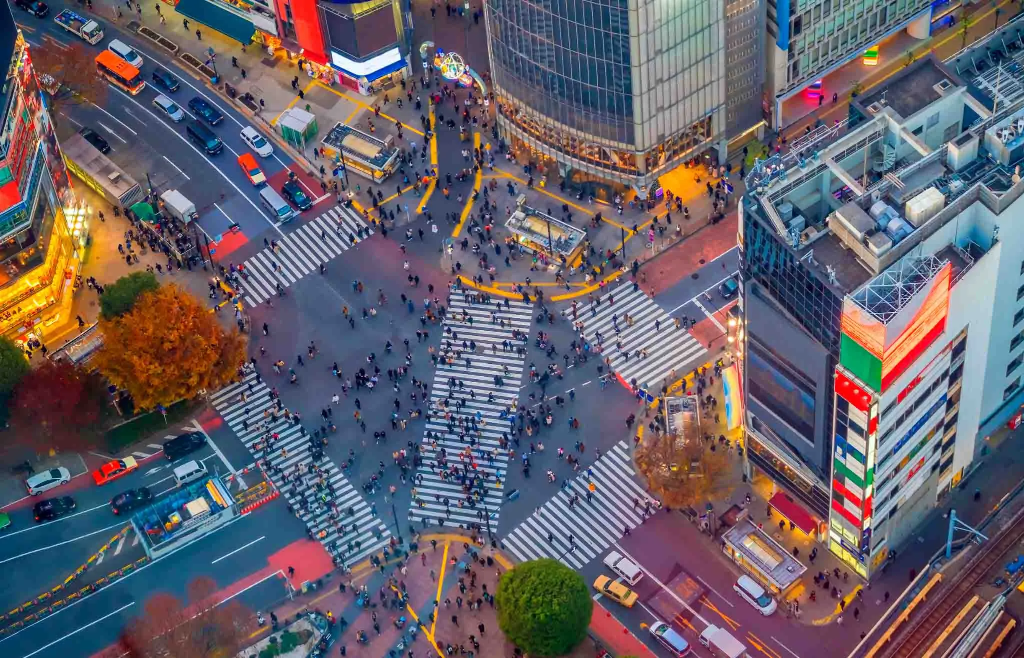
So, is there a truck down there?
Yes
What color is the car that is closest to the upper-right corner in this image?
blue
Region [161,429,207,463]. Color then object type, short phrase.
black van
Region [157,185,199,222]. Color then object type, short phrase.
white truck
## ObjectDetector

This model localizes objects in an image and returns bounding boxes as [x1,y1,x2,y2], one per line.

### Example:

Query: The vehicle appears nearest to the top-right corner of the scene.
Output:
[710,273,742,304]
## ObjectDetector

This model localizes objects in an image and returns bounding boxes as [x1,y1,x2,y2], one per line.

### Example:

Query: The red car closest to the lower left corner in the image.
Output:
[92,456,138,486]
